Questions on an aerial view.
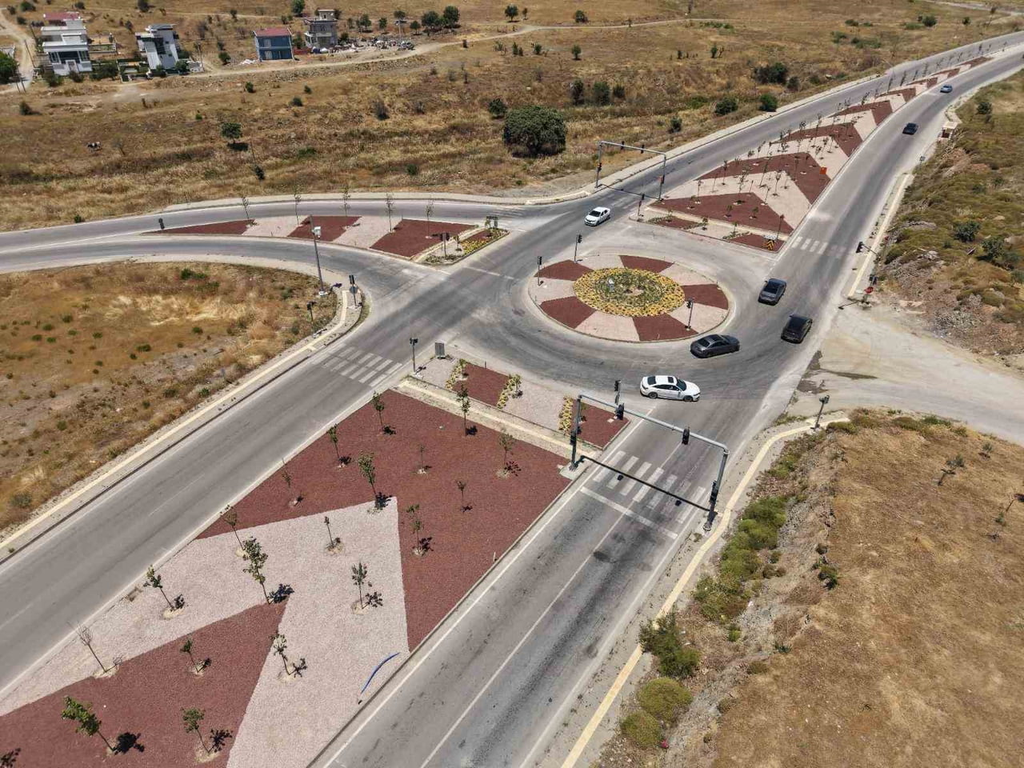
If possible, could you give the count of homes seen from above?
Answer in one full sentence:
The photo contains 4 homes.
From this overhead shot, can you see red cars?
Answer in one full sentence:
No, there's no red car here.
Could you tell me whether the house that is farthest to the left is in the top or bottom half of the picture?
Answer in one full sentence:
The house that is farthest to the left is in the top half of the image.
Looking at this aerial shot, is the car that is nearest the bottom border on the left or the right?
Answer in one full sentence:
It is on the right.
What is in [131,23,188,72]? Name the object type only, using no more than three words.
house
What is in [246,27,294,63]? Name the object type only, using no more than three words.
house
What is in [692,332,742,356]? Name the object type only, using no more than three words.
car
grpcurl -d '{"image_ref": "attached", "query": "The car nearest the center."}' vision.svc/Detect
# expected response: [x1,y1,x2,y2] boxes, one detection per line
[643,374,701,400]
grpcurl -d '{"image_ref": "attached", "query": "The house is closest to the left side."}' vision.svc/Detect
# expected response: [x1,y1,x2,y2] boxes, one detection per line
[33,16,94,77]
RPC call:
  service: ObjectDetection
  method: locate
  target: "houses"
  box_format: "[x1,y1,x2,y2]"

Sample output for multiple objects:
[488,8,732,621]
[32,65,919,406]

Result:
[33,16,94,77]
[131,23,188,72]
[299,6,337,50]
[246,27,294,63]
